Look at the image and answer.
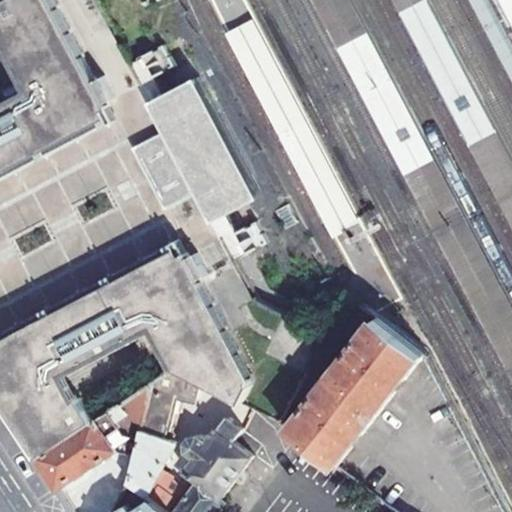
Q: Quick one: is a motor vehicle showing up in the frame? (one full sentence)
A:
Yes, there is a motor vehicle in the image.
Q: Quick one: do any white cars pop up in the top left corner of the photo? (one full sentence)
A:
No, the scene shows no white car in the top left corner of the photo.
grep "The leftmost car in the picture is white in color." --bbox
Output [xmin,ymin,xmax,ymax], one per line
[15,456,33,478]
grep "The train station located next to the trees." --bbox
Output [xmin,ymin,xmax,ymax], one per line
[214,0,512,379]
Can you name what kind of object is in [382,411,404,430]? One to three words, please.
car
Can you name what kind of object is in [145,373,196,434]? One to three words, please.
building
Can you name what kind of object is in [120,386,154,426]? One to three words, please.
shed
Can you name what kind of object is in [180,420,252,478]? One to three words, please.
house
